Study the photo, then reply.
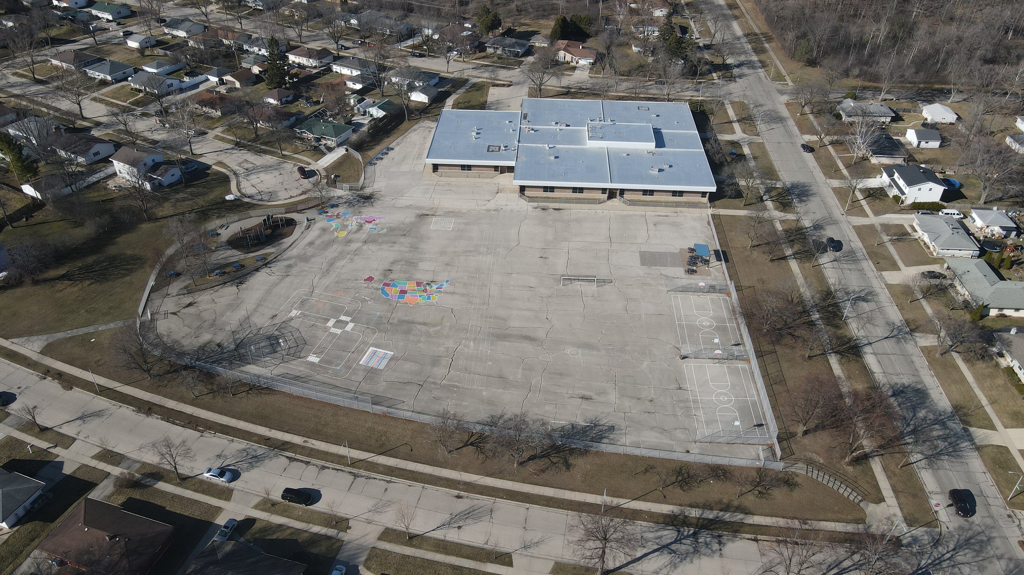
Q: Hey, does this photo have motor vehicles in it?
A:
Yes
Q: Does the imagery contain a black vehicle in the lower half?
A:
Yes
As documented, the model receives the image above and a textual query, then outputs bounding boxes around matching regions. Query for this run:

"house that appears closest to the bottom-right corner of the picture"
[989,331,1024,389]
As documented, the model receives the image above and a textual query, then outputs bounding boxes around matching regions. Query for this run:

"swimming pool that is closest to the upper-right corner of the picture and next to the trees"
[940,175,966,191]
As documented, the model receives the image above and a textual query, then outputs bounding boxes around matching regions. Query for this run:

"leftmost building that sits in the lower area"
[0,463,47,530]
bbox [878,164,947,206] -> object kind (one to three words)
house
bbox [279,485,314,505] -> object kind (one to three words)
car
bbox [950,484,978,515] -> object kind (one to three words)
car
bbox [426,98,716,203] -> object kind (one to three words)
building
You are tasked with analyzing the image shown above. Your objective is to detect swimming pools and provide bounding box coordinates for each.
[940,175,966,191]
[183,71,201,80]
